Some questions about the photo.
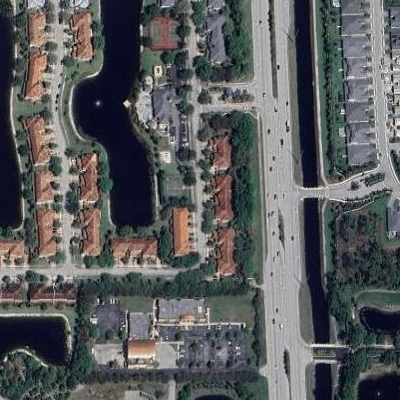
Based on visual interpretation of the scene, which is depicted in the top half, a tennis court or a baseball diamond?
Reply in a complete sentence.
There is a tennis court in the top half.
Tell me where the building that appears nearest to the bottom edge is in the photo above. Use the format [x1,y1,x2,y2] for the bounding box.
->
[128,340,155,359]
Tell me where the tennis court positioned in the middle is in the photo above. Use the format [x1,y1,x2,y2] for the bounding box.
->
[160,174,189,204]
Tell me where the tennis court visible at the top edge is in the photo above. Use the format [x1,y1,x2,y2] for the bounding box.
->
[150,17,180,49]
